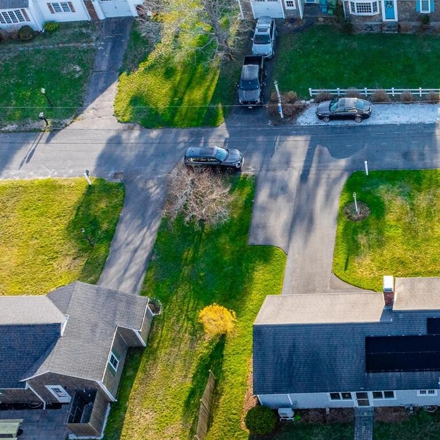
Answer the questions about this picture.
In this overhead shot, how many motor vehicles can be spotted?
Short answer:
4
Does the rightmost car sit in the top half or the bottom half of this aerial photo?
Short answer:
top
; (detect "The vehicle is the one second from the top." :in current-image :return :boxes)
[235,59,268,105]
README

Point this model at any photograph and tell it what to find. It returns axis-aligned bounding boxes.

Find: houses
[252,274,440,415]
[238,0,440,36]
[0,0,153,33]
[0,281,153,410]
